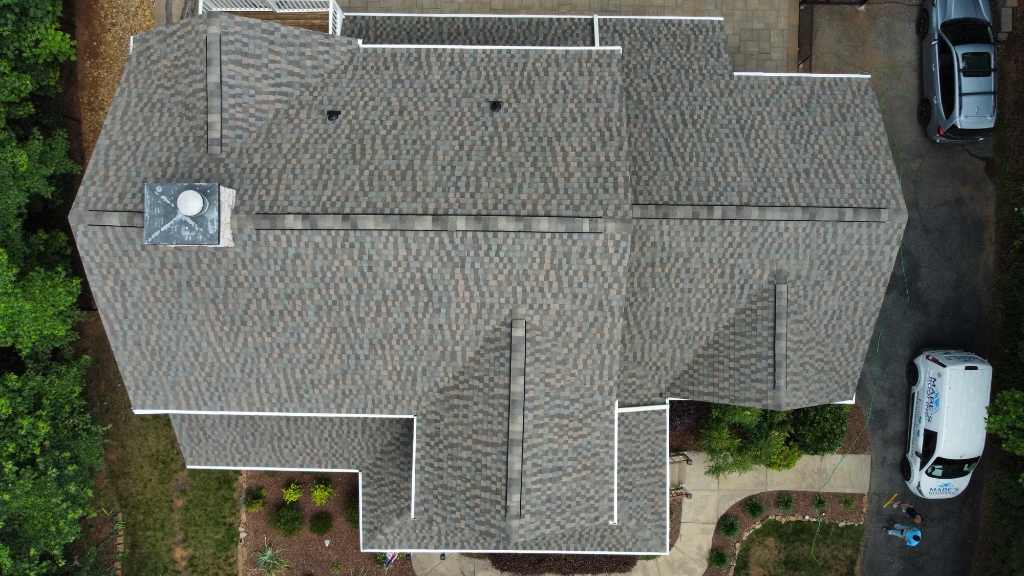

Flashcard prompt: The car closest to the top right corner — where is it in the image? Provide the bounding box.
[916,0,1001,145]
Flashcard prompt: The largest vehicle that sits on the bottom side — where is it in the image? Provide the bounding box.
[902,352,996,502]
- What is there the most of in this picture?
buildings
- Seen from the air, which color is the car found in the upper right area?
black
